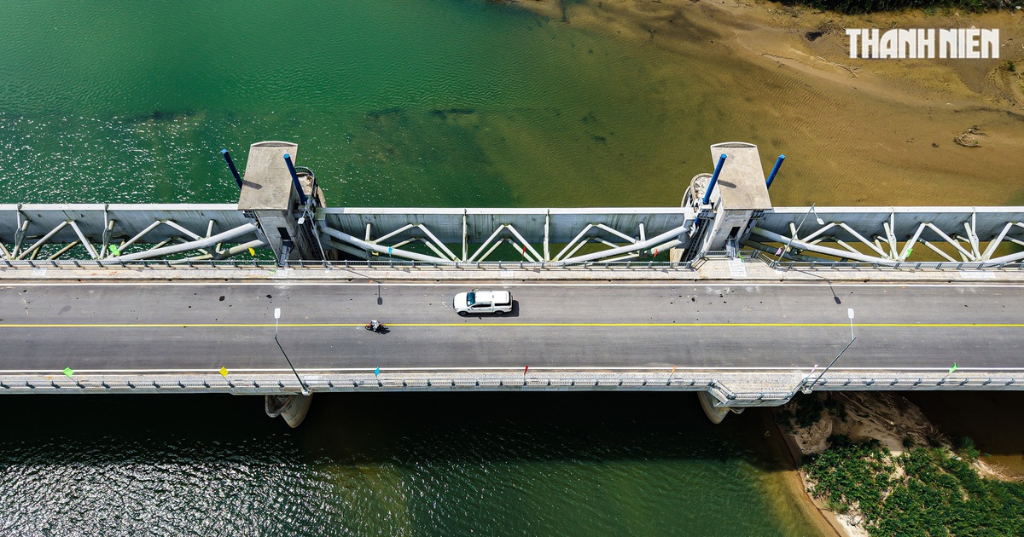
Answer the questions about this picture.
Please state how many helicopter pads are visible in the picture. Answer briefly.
0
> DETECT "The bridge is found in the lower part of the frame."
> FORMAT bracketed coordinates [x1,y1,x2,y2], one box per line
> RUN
[0,253,1024,407]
